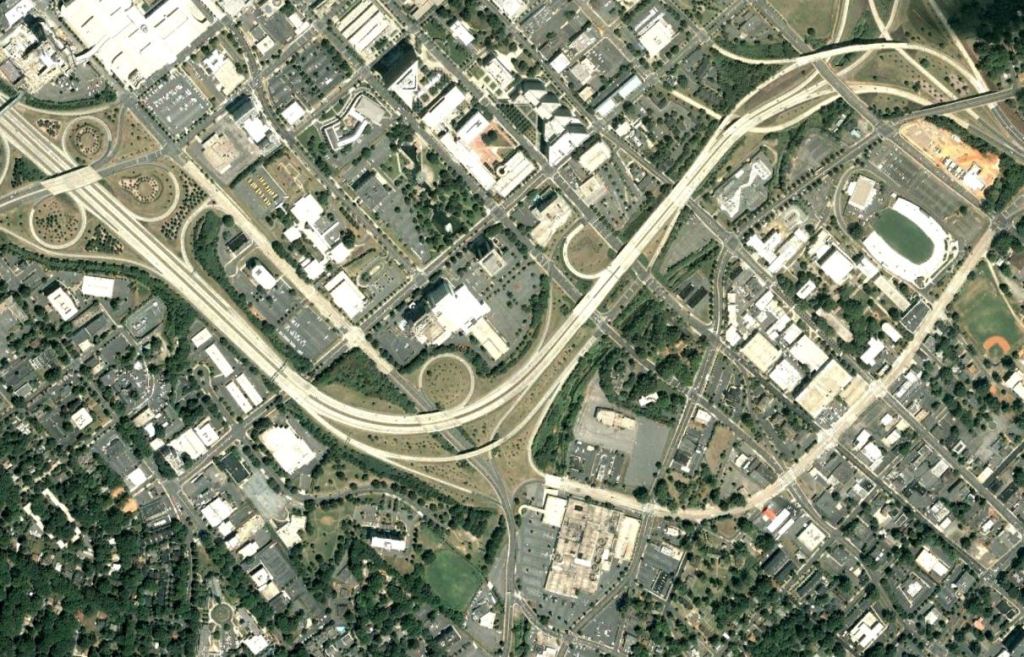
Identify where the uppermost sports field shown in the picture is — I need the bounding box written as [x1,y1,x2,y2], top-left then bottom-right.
[872,208,933,263]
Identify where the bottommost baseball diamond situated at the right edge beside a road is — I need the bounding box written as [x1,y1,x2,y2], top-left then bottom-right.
[958,268,1024,362]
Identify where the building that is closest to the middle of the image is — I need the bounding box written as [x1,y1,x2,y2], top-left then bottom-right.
[472,317,509,360]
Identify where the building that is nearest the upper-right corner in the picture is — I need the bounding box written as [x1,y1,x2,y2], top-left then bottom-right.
[964,162,985,190]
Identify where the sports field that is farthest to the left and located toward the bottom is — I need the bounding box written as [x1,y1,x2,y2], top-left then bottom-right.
[424,547,485,610]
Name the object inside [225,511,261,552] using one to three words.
building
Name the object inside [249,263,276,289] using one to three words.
building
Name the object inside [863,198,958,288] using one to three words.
stadium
